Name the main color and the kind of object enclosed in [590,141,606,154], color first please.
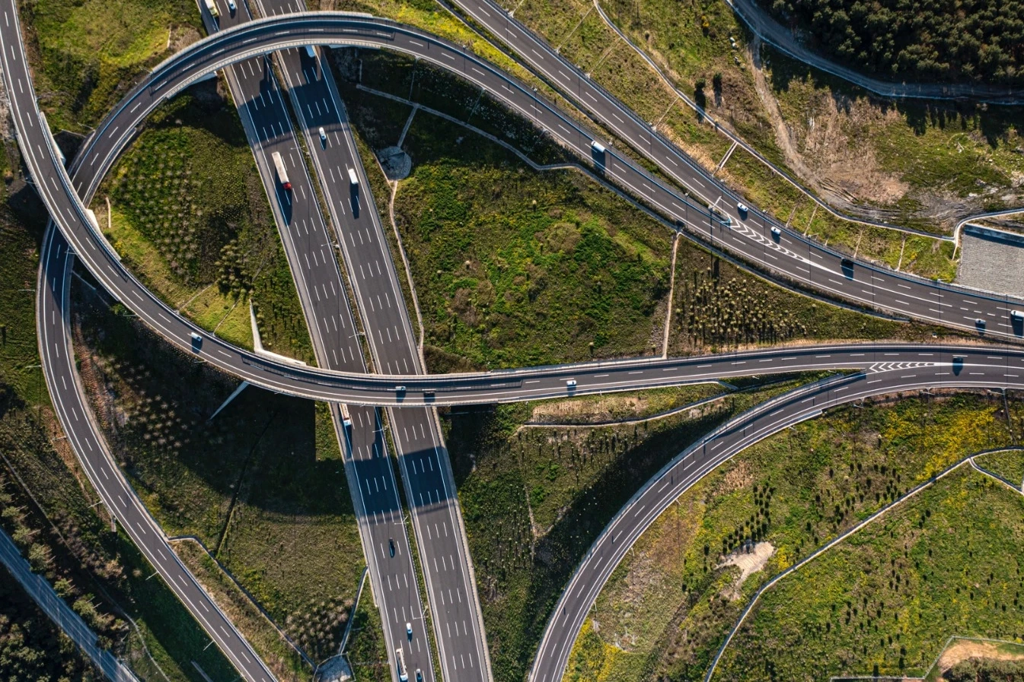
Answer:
white vehicle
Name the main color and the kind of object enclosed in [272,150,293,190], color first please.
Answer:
white truck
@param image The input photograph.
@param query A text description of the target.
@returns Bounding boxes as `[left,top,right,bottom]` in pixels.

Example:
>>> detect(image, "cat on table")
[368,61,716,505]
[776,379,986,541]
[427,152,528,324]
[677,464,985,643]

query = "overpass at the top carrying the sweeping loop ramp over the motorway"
[146,11,383,100]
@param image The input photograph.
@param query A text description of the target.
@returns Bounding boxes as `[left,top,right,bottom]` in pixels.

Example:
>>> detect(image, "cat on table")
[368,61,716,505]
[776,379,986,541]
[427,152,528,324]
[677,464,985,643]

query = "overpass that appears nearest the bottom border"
[211,300,516,419]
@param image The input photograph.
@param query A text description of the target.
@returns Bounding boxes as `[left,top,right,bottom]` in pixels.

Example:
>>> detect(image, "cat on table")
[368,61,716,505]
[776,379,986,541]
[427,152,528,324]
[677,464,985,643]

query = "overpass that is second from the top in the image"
[13,118,138,299]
